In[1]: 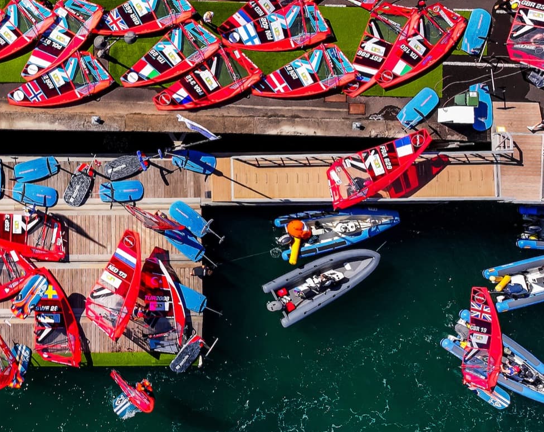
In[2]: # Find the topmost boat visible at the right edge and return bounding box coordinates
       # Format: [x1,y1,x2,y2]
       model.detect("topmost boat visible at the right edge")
[505,206,544,247]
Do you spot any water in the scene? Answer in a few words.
Yes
